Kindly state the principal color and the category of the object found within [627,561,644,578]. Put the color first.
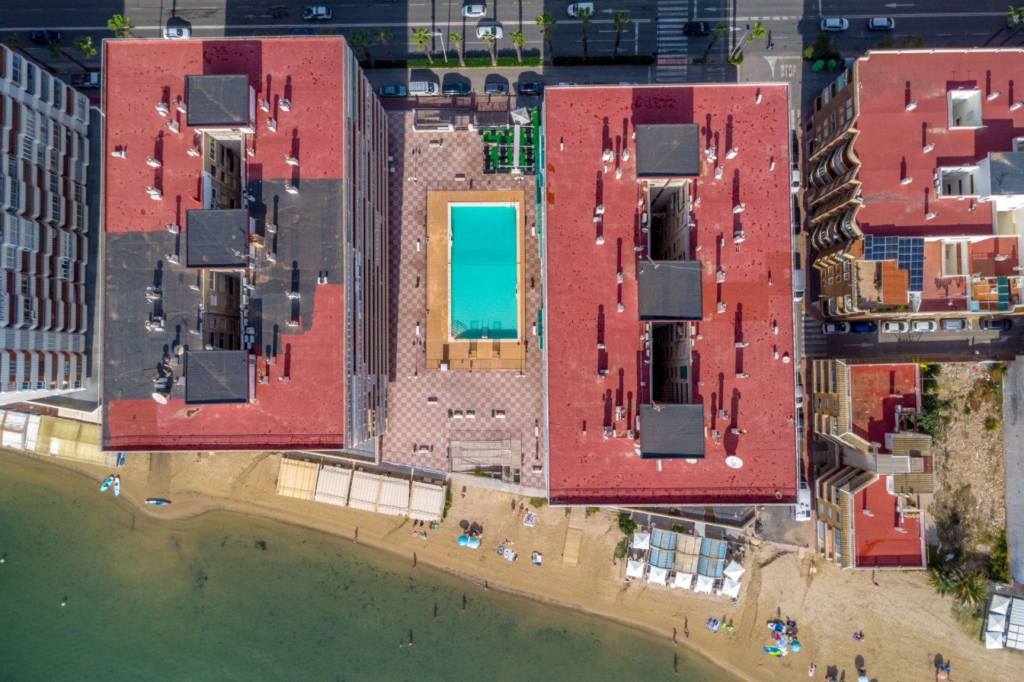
white umbrella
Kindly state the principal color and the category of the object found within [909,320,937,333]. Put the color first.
white vehicle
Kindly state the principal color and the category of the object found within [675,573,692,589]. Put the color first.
white umbrella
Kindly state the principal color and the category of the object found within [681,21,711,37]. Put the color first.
black car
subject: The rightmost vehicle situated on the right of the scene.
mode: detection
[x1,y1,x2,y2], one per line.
[979,316,1010,331]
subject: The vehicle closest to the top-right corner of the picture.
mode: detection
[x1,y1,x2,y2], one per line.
[865,16,895,32]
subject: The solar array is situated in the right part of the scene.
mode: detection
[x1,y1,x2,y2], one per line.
[859,238,923,292]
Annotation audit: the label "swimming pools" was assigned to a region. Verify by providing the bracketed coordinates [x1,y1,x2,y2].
[427,190,525,370]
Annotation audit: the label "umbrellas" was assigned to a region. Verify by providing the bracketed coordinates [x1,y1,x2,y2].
[982,632,1002,649]
[696,575,713,592]
[722,578,741,598]
[510,108,530,124]
[457,534,469,547]
[723,560,745,582]
[857,673,869,682]
[633,533,650,549]
[675,573,692,589]
[985,615,1005,632]
[648,568,666,583]
[988,594,1010,614]
[627,561,644,578]
[468,536,480,548]
[790,641,801,652]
